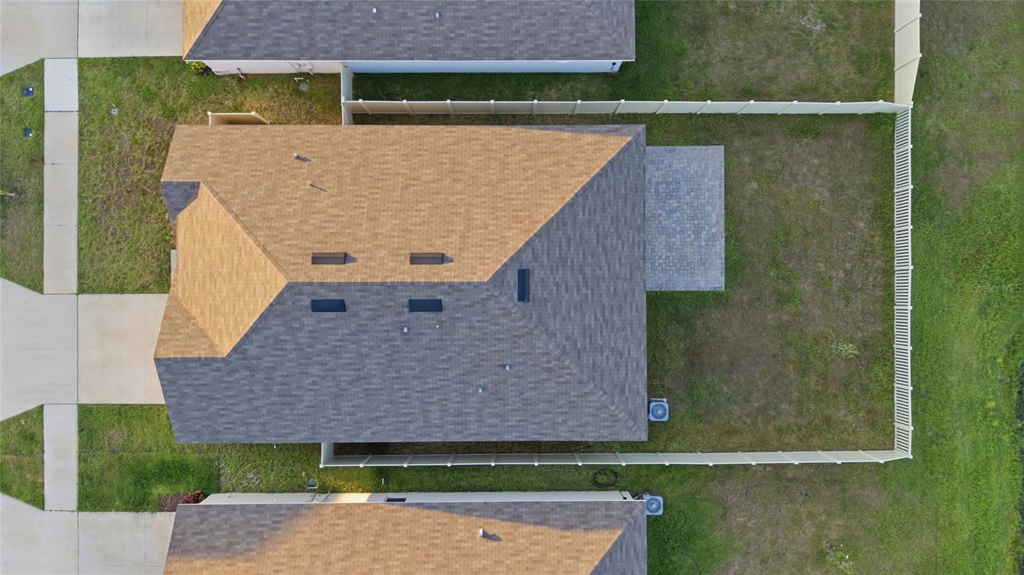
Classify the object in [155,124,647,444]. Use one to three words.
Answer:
house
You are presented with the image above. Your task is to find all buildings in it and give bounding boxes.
[182,0,635,82]
[155,124,647,444]
[160,484,646,575]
